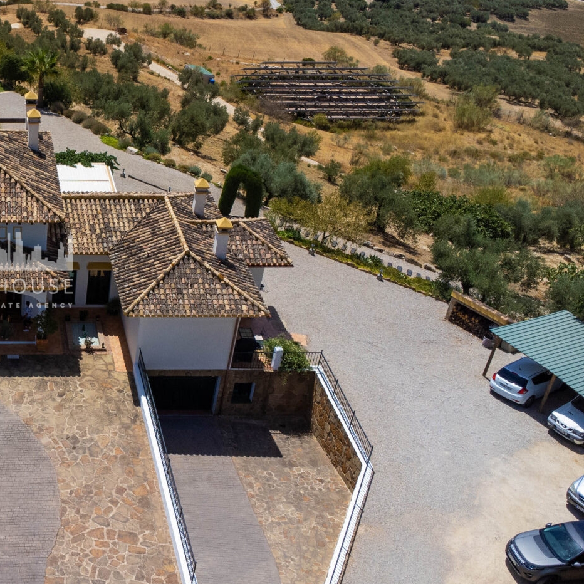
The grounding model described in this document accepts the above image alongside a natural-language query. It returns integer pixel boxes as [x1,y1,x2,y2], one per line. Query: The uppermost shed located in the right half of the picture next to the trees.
[442,290,521,354]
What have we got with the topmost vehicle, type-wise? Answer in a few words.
car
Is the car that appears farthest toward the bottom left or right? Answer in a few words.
right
